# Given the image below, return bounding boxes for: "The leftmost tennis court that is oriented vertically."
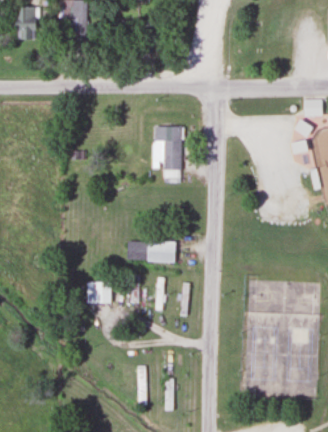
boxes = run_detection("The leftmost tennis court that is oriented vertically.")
[244,314,284,397]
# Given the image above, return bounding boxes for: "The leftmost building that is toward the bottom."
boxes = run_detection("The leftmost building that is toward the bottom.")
[88,282,112,306]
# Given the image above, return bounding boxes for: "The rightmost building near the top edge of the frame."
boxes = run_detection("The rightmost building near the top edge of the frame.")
[64,0,88,36]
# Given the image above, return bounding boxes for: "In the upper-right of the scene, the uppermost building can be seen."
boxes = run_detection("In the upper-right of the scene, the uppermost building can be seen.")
[304,99,323,117]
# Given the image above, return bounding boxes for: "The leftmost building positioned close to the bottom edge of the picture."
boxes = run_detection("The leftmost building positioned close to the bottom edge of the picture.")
[137,365,150,410]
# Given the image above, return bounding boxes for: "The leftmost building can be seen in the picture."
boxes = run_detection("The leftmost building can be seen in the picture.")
[16,7,36,40]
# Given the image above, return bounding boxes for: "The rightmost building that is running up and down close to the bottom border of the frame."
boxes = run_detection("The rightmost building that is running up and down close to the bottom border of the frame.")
[165,378,178,412]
